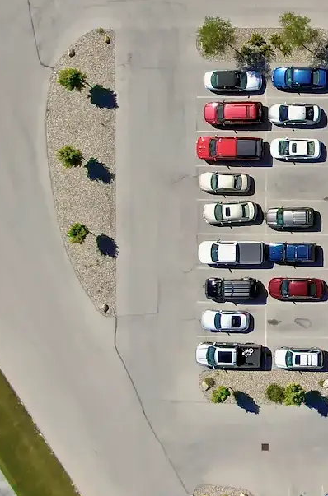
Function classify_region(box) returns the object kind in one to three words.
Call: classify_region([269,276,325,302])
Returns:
car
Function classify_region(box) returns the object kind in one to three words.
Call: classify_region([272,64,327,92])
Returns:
car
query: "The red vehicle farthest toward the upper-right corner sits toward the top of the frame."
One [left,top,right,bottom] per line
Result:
[204,99,262,126]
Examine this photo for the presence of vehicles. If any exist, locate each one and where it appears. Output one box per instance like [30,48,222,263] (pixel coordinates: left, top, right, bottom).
[196,343,264,372]
[271,136,321,162]
[269,276,325,302]
[203,200,257,227]
[202,309,250,335]
[196,133,265,161]
[204,66,263,93]
[267,205,314,231]
[269,101,321,127]
[204,277,254,301]
[198,239,265,267]
[267,240,319,265]
[275,347,325,373]
[204,99,262,126]
[199,168,250,195]
[272,64,327,92]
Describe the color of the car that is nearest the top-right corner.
blue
